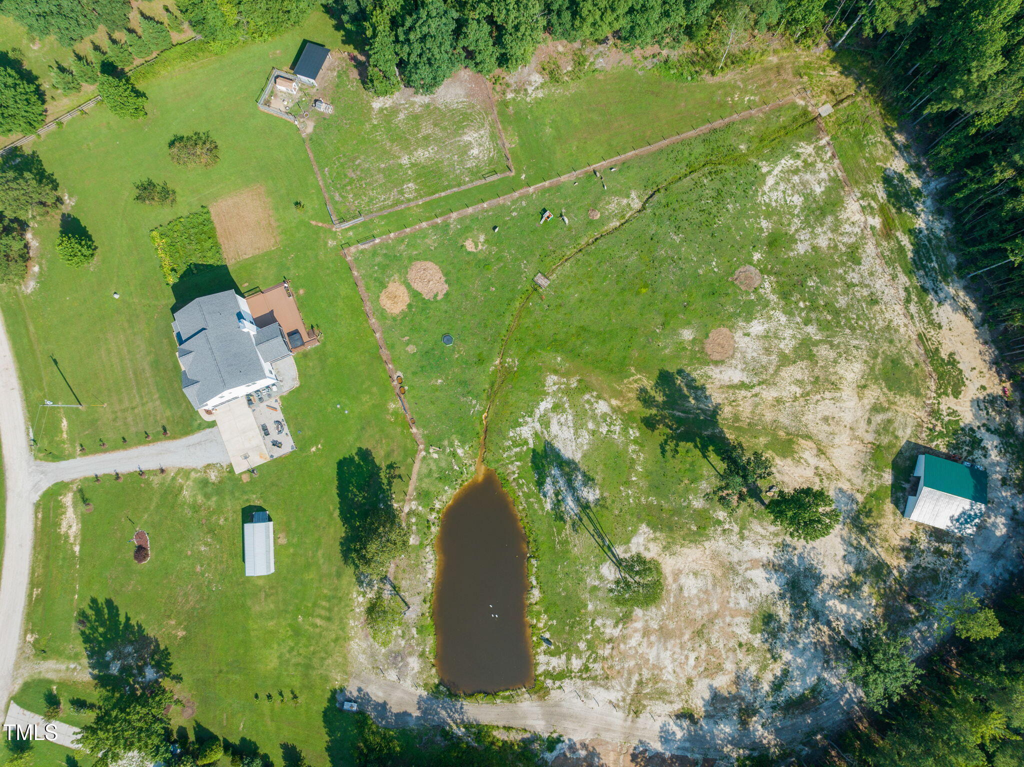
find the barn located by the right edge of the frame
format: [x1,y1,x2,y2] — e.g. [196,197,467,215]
[902,454,989,538]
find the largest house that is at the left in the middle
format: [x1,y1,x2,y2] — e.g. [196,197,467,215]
[172,289,295,410]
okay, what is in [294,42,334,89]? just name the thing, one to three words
shed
